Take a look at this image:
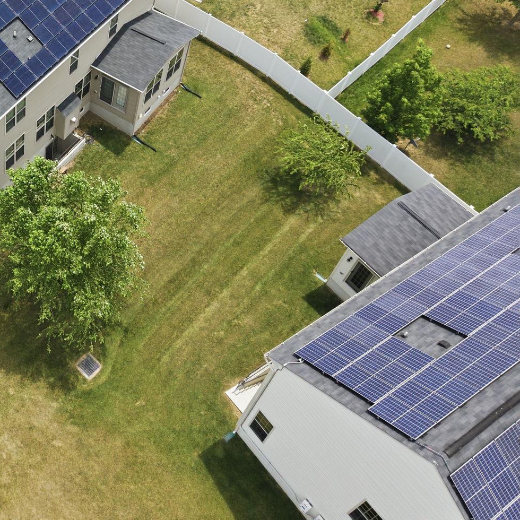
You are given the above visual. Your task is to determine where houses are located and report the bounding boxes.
[0,0,198,189]
[225,183,520,520]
